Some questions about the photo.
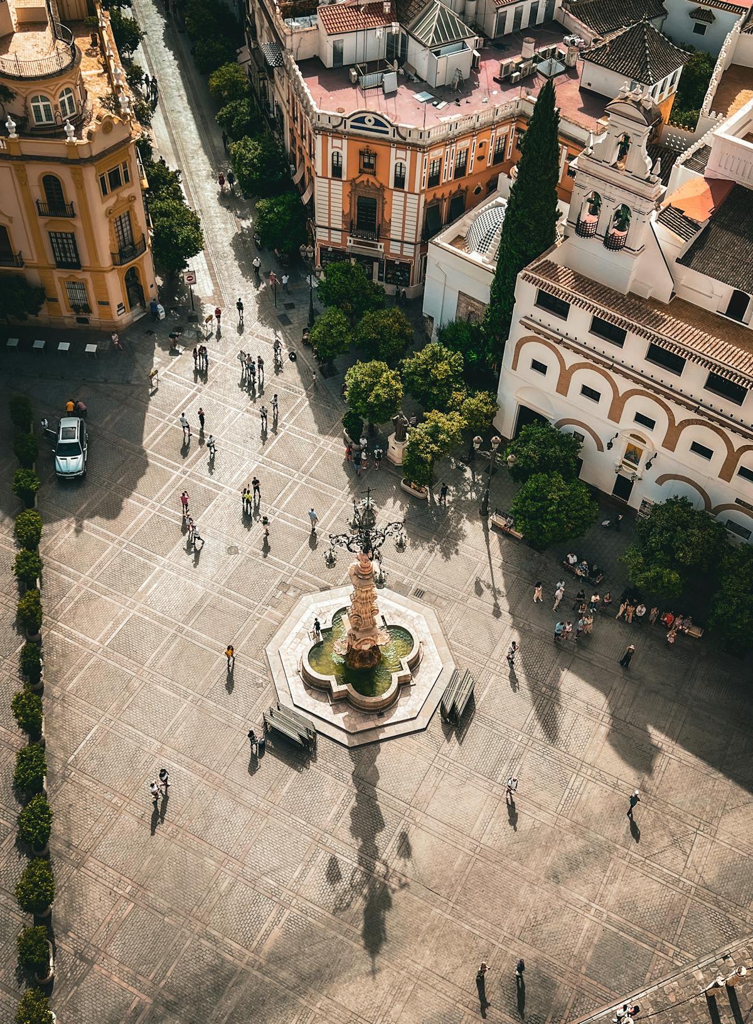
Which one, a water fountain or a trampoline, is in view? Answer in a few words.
water fountain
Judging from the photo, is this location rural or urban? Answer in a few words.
urban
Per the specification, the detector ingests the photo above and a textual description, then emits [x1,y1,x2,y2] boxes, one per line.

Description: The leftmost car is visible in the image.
[42,412,93,478]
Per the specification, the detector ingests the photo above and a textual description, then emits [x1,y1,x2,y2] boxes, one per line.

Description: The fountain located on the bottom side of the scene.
[261,491,462,758]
